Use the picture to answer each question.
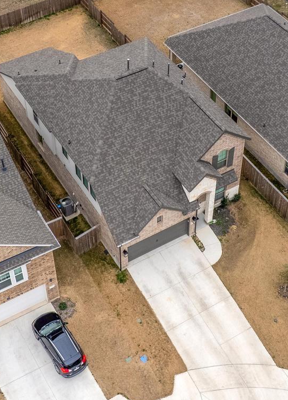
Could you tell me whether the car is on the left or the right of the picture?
left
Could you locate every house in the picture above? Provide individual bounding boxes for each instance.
[0,37,253,271]
[0,132,64,324]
